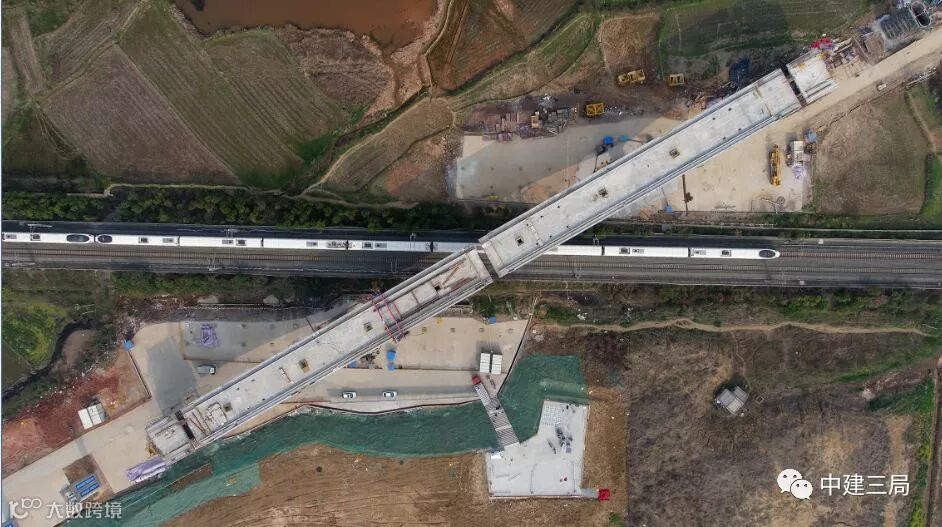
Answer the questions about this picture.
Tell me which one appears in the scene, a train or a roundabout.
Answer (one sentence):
Visible in the photo is a train.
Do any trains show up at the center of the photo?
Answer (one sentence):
Yes, a train appears at the center of the photo.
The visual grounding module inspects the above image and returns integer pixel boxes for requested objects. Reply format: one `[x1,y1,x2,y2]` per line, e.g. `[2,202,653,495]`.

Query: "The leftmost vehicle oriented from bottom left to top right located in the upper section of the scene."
[594,133,616,154]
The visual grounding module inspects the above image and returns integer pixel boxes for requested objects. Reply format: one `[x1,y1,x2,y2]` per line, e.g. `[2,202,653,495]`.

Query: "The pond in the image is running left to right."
[178,0,436,53]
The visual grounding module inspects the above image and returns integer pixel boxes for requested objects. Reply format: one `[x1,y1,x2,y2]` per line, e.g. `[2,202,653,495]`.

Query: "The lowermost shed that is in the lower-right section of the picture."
[715,380,751,415]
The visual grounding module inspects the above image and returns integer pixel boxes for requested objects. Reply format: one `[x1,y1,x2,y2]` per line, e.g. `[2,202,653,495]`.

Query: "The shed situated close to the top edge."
[875,6,919,43]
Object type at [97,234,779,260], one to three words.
train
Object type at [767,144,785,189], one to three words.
vehicle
